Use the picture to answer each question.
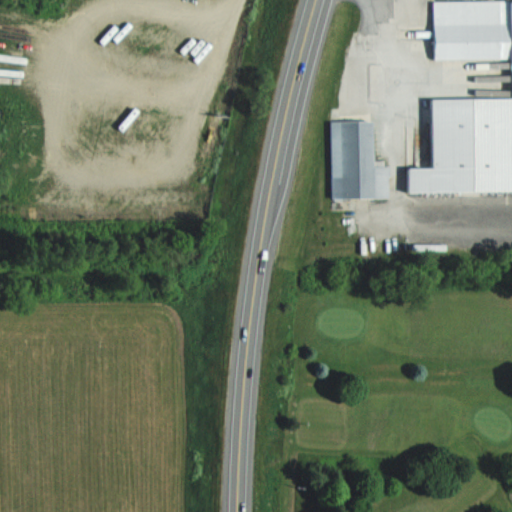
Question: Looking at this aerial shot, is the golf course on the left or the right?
right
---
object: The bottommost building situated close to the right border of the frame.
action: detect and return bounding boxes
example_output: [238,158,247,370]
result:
[408,96,512,194]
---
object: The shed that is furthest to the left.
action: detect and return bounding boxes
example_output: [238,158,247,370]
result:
[331,122,388,198]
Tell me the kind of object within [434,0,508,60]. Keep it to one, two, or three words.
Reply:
building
